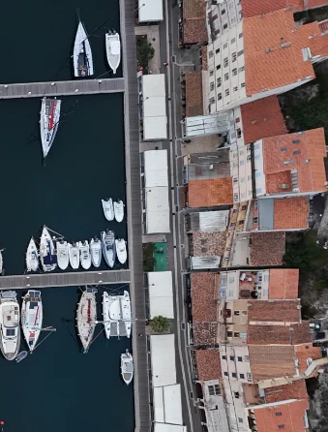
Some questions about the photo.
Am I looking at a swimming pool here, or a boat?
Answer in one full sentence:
It is a boat that can be seen here.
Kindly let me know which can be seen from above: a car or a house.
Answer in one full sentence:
It is a house that can be seen here.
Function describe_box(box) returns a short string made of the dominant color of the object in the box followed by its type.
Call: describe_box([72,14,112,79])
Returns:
white boat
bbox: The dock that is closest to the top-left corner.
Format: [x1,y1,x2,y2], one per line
[0,79,124,99]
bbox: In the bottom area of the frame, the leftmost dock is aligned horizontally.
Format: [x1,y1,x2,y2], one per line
[0,270,130,290]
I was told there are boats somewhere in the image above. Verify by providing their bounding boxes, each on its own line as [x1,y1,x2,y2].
[21,289,57,353]
[100,229,116,268]
[119,348,134,391]
[113,198,125,231]
[79,239,91,272]
[0,248,9,276]
[103,30,121,79]
[102,292,147,339]
[72,14,112,79]
[115,237,127,269]
[78,288,119,352]
[55,239,68,274]
[25,237,45,274]
[67,240,80,271]
[0,289,21,361]
[38,226,67,274]
[14,351,26,363]
[90,237,101,268]
[38,98,77,157]
[101,196,114,228]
